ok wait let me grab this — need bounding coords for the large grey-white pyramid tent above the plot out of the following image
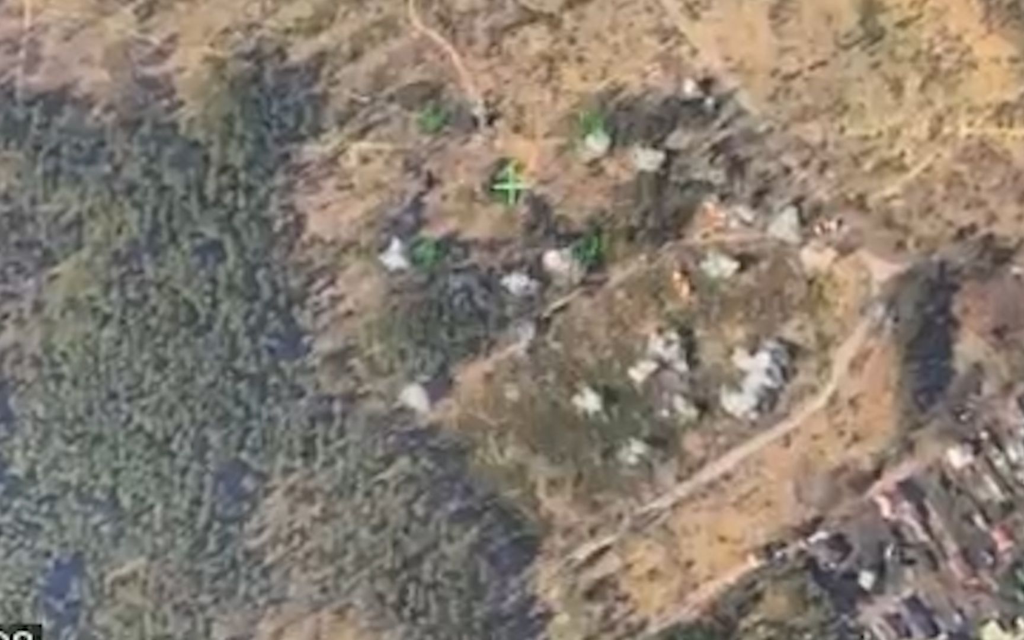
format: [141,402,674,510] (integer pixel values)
[767,207,802,242]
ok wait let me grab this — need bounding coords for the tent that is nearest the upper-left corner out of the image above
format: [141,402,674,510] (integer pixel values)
[378,242,415,275]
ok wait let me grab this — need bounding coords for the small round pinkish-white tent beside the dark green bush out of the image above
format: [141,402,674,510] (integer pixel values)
[542,251,568,276]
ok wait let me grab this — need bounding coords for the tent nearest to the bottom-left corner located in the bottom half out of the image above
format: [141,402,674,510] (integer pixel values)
[400,385,430,419]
